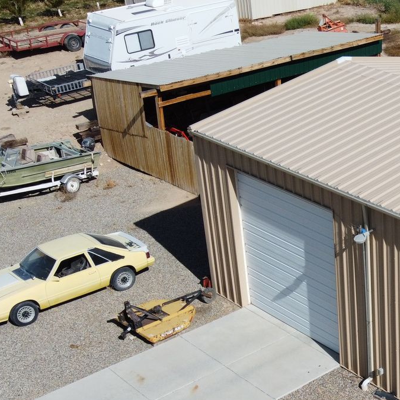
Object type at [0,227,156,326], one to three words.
car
